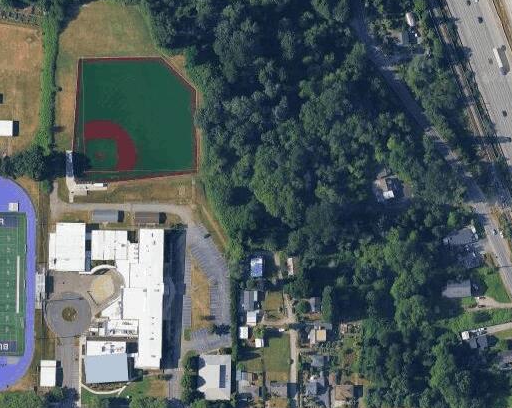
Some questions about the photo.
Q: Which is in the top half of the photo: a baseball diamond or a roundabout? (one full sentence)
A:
You can see a baseball diamond in the top half of the photo.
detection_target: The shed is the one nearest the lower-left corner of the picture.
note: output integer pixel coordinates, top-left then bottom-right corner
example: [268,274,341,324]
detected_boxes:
[40,360,56,386]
